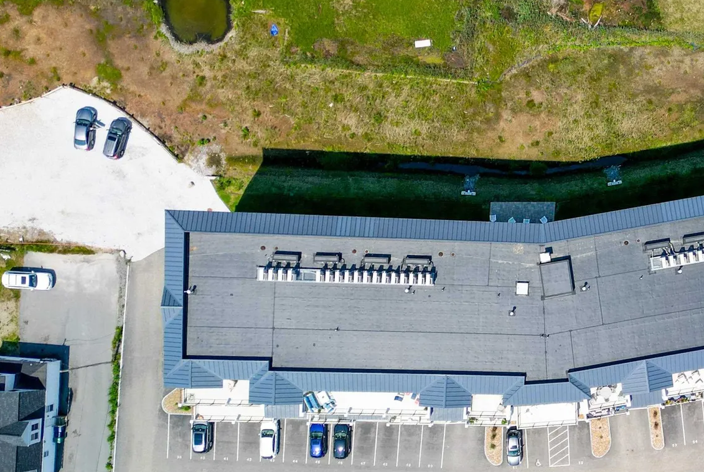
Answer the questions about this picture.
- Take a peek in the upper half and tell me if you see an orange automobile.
No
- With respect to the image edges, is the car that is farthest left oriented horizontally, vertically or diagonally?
horizontally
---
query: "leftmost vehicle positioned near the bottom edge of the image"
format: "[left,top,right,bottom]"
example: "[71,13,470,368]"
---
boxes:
[191,419,212,454]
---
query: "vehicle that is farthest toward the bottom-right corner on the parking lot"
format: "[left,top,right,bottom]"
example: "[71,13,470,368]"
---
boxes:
[504,426,523,466]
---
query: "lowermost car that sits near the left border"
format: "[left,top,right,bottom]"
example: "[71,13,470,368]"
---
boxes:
[6,270,50,290]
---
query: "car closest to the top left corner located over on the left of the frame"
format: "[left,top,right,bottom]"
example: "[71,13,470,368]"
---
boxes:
[76,109,102,150]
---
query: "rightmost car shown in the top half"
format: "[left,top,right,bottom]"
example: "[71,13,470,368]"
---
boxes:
[103,118,132,159]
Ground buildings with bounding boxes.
[160,195,704,430]
[0,353,62,472]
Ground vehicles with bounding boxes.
[6,270,50,290]
[103,118,132,159]
[307,422,326,456]
[191,419,212,454]
[259,421,279,458]
[504,426,523,466]
[332,422,350,457]
[76,109,102,150]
